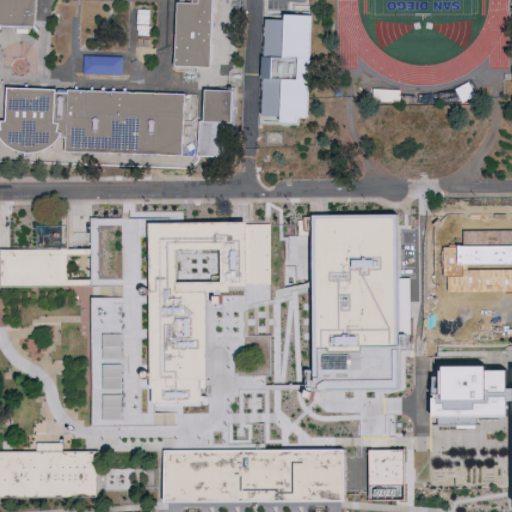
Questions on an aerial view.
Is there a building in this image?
Yes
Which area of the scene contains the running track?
top right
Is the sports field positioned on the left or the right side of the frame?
right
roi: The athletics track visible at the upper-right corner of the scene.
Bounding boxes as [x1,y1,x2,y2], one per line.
[338,0,510,84]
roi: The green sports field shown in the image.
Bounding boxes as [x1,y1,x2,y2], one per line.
[358,0,490,65]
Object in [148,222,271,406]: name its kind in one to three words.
building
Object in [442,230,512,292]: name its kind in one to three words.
building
